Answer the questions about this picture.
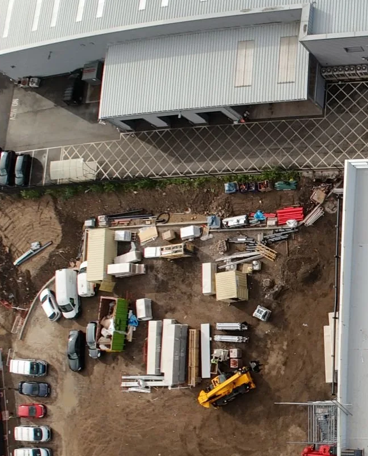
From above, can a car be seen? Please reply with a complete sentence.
Yes, the photo shows a car.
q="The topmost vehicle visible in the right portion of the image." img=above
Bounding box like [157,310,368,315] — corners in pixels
[195,359,269,407]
